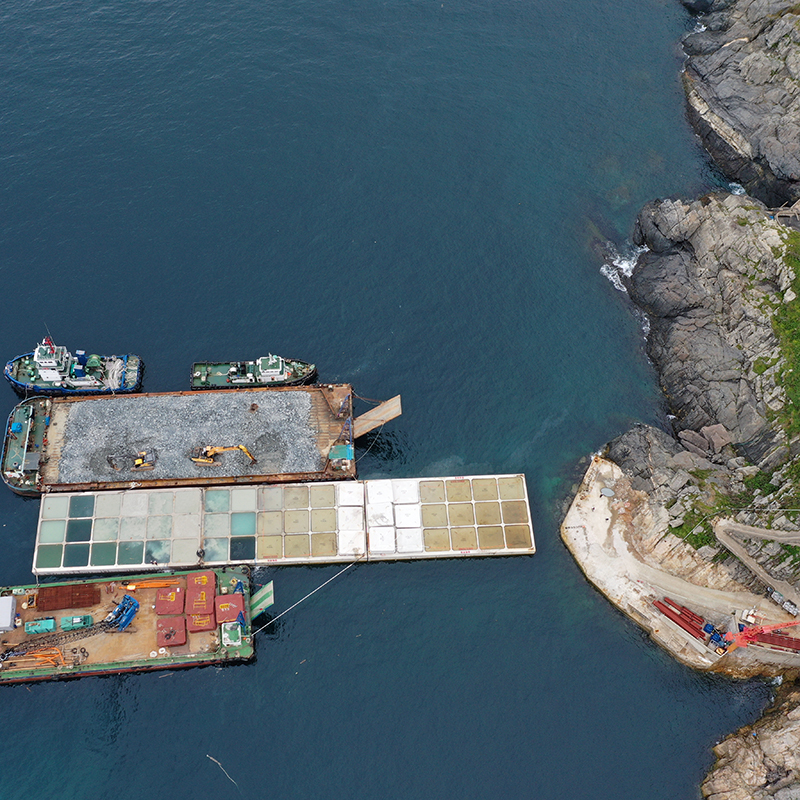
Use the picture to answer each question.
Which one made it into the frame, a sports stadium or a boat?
boat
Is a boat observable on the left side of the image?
Yes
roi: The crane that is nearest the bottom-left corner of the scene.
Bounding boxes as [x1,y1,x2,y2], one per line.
[2,593,141,659]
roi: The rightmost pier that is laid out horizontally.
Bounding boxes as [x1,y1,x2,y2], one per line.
[364,474,536,562]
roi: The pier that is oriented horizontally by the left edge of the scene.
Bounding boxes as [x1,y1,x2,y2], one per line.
[32,488,203,577]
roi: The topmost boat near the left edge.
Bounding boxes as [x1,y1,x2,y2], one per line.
[2,334,144,395]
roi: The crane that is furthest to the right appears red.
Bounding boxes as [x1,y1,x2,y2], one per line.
[723,612,800,655]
